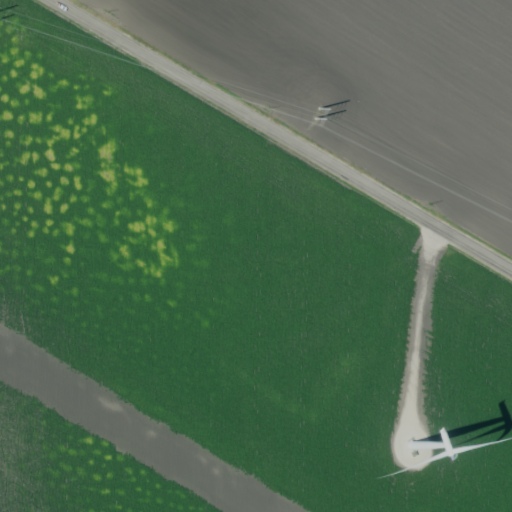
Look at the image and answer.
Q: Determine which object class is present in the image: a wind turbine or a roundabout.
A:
wind turbine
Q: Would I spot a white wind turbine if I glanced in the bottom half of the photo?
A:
Yes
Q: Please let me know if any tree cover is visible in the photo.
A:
No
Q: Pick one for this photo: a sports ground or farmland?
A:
farmland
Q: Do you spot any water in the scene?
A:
No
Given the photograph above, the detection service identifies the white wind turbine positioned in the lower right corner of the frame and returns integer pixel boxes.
[380,428,512,480]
